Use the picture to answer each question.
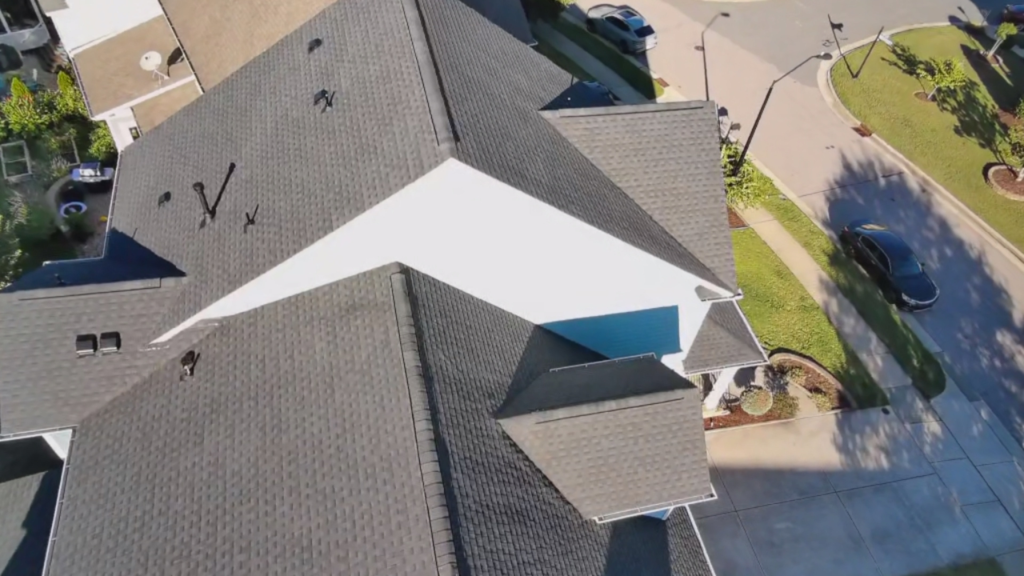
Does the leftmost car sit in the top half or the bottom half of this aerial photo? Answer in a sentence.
Seen from above, the leftmost car lies in the top half of the view.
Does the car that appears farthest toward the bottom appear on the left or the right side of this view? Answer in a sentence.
The car that appears farthest toward the bottom sits on the right side.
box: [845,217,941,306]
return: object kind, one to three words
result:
car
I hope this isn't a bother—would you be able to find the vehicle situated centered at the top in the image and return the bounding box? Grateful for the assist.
[581,8,656,53]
